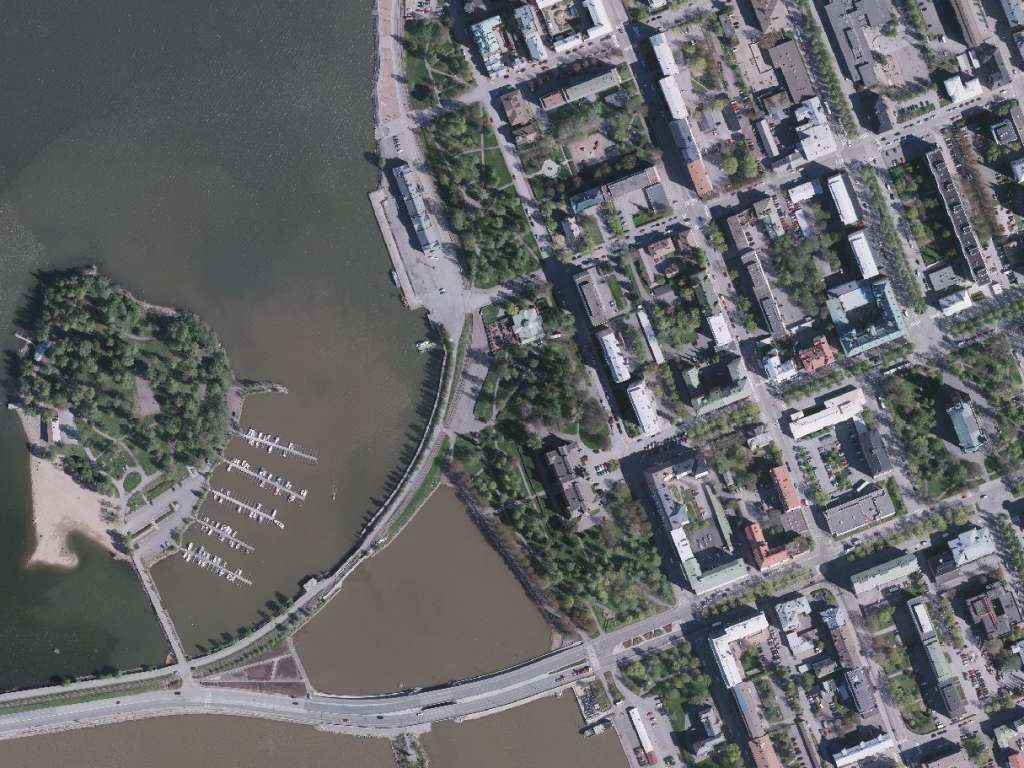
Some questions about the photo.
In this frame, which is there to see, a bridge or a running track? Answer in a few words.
bridge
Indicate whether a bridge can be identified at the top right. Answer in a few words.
No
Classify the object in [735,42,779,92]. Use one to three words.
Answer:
building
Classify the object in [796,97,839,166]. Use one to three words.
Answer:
building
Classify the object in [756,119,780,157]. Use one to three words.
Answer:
shed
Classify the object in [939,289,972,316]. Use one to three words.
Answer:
house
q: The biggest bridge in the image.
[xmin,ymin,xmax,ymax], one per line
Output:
[421,644,591,725]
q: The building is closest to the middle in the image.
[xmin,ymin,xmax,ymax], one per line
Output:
[513,308,544,344]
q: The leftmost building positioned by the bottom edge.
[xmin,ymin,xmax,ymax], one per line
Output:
[630,708,658,765]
